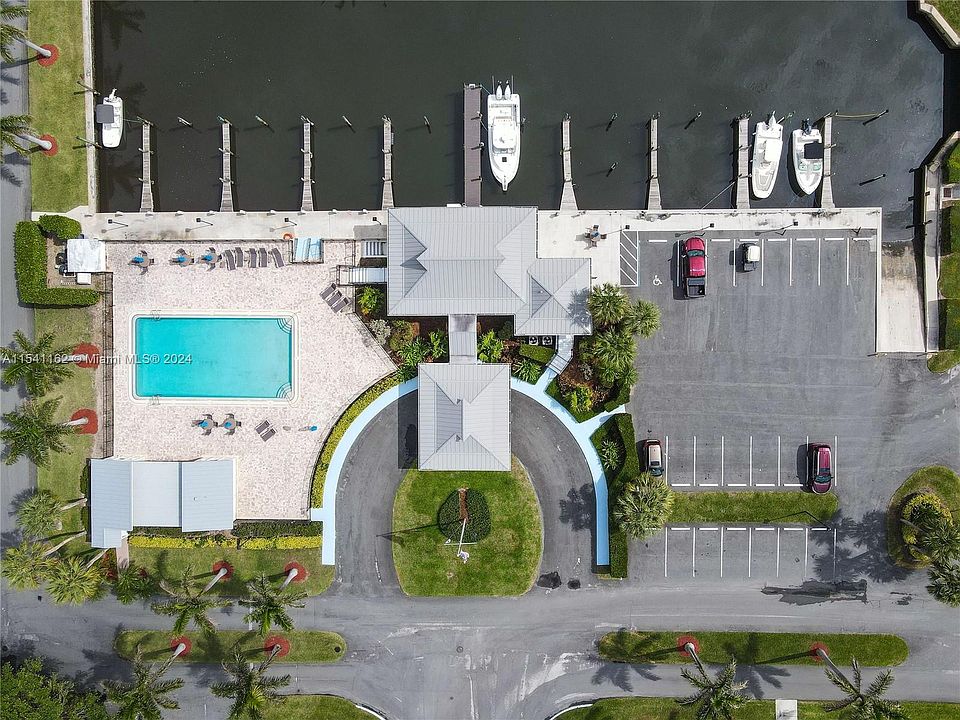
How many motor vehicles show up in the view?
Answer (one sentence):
The picture shows 4 motor vehicles.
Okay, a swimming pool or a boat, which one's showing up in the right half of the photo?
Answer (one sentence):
The feature located in the right half of the photo is a boat.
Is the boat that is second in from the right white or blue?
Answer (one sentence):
The color of the boat that is second in from the right is white.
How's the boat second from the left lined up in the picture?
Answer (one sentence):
From this overhead view, the boat second from the left appears to run up and down.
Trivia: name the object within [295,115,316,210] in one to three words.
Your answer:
pier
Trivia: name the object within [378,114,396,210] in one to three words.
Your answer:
pier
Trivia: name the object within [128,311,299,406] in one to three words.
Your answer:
swimming pool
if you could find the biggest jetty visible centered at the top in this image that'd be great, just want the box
[460,81,485,207]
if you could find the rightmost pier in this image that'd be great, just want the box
[817,112,844,210]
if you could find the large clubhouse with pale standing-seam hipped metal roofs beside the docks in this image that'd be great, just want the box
[387,207,596,335]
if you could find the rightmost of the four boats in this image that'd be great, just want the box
[793,115,832,194]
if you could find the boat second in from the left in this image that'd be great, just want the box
[487,79,520,193]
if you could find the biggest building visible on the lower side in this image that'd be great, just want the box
[91,457,235,549]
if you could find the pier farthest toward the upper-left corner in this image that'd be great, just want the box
[133,118,158,210]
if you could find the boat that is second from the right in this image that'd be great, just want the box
[755,107,790,197]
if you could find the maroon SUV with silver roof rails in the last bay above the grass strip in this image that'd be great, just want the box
[808,444,835,493]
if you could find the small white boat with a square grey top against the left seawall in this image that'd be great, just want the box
[91,88,125,150]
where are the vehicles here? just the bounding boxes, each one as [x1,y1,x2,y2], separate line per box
[741,244,761,270]
[644,437,668,481]
[682,237,708,299]
[808,444,835,493]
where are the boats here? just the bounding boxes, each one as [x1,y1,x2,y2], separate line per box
[793,115,832,194]
[755,107,790,197]
[487,79,520,193]
[91,88,125,150]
